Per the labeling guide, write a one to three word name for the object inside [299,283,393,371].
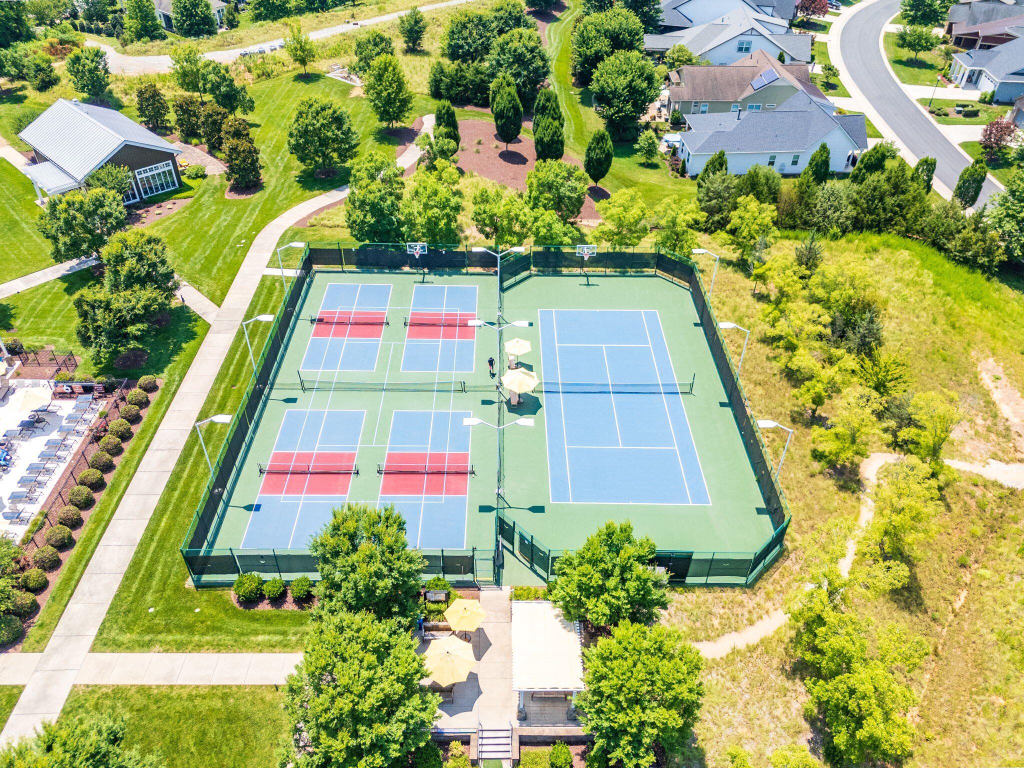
sports court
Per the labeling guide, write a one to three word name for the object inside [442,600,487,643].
umbrella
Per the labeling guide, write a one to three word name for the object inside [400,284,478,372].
sports court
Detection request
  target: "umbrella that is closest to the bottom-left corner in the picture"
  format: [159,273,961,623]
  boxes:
[0,377,50,418]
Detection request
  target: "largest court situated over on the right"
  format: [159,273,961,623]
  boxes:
[498,270,786,588]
